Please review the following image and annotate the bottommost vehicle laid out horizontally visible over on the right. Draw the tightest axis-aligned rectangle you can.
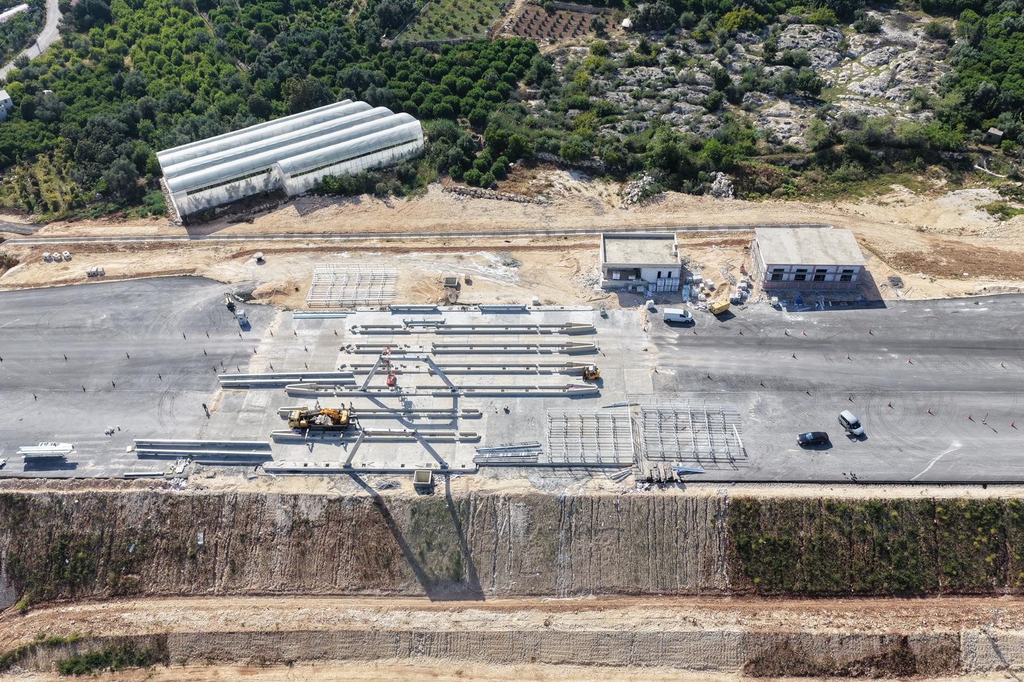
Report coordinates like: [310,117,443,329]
[797,433,832,449]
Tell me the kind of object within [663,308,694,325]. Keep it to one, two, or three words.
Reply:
vehicle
